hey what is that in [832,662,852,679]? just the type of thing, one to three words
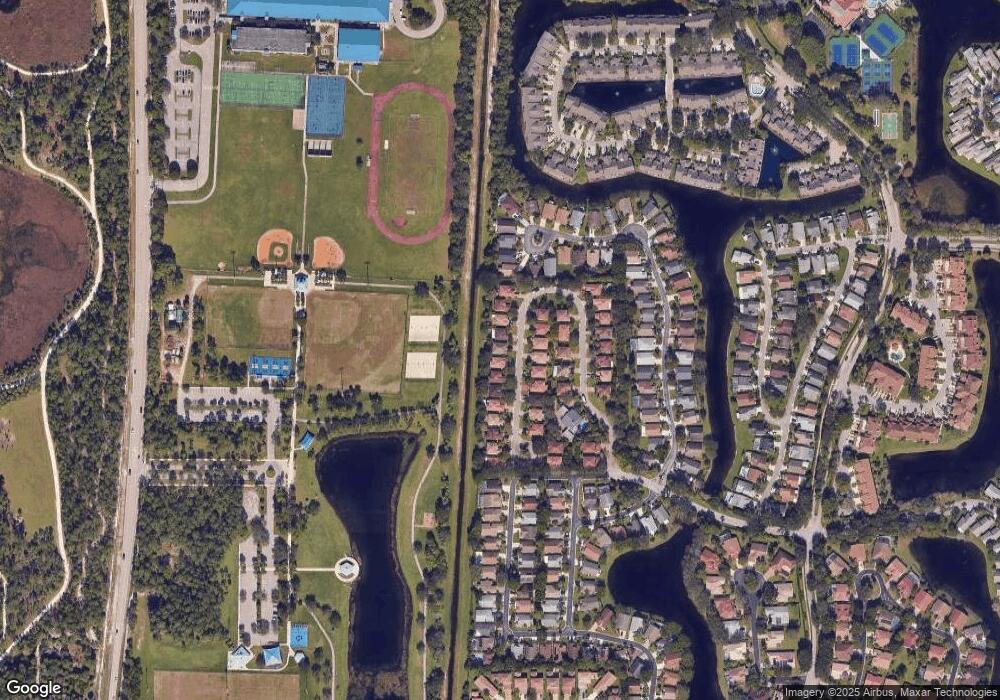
house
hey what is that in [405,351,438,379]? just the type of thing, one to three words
sports court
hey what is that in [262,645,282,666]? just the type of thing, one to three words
building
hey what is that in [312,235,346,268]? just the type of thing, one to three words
baseball field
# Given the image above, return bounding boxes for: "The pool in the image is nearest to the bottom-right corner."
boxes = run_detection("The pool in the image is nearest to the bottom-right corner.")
[888,350,906,365]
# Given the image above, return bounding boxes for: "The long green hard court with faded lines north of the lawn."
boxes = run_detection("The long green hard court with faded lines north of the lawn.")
[219,70,306,108]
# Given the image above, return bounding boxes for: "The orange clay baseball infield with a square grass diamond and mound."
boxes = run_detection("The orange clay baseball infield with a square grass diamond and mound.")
[256,227,295,266]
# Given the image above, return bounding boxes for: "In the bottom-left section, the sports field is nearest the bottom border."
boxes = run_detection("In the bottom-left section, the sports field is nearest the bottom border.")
[154,671,299,700]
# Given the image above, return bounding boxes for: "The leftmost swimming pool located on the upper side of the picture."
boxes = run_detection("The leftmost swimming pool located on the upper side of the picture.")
[747,72,768,98]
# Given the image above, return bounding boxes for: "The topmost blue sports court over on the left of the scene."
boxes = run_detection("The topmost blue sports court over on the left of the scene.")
[304,75,346,137]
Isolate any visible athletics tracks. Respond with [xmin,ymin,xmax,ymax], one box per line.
[367,83,453,244]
